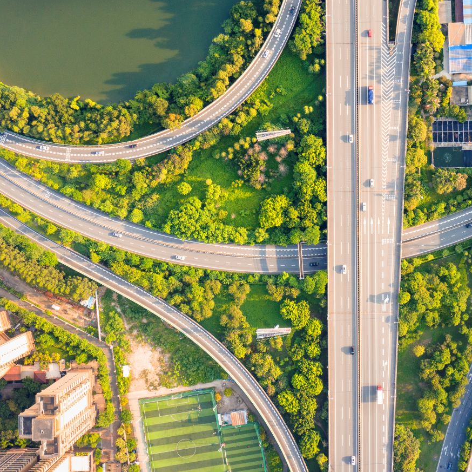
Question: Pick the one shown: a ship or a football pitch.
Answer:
football pitch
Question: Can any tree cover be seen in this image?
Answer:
Yes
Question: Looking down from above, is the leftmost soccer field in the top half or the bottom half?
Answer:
bottom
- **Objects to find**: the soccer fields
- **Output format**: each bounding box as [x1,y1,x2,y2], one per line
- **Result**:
[222,424,265,472]
[143,391,226,472]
